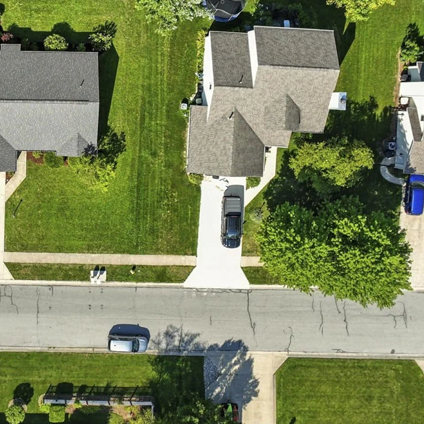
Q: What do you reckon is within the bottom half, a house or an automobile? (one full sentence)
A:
It is an automobile that can be seen within the bottom half.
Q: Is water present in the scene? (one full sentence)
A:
No, there is no water in the image.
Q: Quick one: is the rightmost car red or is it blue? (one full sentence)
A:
The rightmost car looks blue in the image.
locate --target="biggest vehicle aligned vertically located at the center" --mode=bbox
[220,195,243,248]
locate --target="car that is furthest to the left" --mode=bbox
[106,332,149,355]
